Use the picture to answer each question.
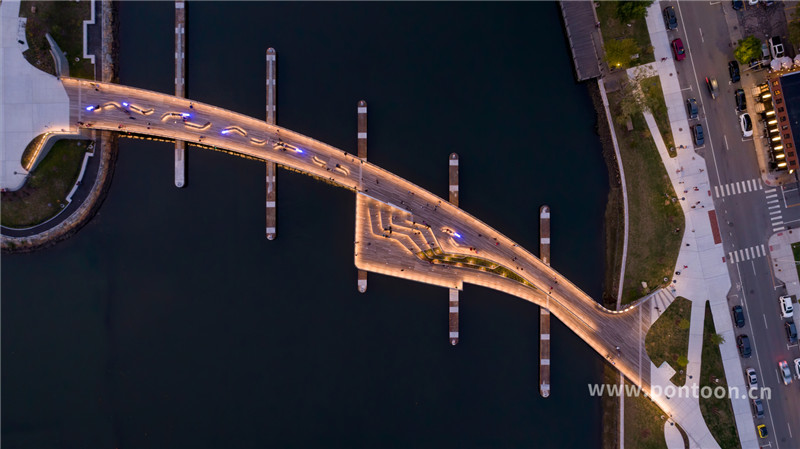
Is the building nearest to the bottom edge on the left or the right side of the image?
right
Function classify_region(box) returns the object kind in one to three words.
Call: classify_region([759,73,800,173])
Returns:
building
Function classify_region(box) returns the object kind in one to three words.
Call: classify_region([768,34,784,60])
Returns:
car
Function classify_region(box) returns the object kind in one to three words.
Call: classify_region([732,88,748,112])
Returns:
car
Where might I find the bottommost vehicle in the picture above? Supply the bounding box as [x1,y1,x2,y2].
[755,422,769,438]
